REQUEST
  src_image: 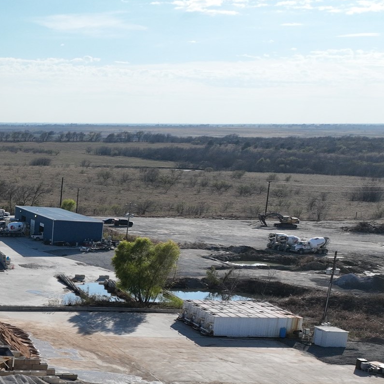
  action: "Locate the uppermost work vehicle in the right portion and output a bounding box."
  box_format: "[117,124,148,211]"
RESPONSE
[259,211,301,228]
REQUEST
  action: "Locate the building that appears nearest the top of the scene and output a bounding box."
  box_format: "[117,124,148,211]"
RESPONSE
[13,204,108,245]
